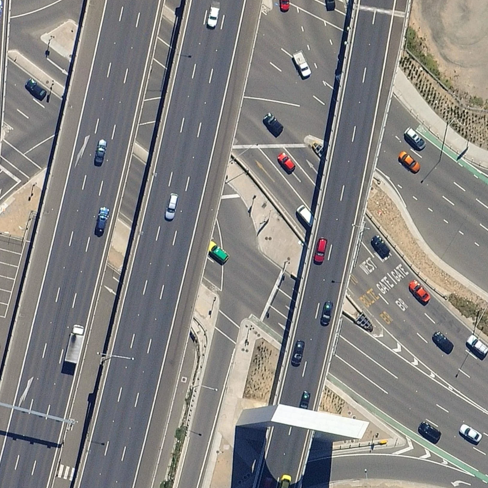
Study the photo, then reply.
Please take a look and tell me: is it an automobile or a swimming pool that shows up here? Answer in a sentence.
Visible in the photo is an automobile.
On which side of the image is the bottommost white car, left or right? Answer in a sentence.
You can find the bottommost white car on the right side of the picture.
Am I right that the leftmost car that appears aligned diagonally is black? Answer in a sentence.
Yes, the leftmost car that appears aligned diagonally appears black.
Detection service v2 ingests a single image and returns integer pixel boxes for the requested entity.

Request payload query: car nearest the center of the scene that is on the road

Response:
[209,241,231,264]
